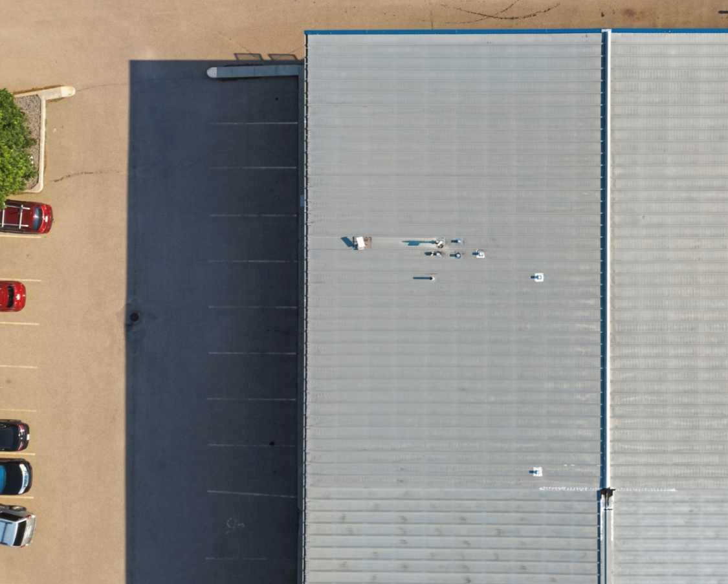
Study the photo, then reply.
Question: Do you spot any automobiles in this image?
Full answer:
Yes, the image includes an automobile.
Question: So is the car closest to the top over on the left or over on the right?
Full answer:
It is on the left.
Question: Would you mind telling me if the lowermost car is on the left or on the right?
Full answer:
The lowermost car appears in the left half of the scene.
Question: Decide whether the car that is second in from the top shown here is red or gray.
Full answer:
The car that is second in from the top is red.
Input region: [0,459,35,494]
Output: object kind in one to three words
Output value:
car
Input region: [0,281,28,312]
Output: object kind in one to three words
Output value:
car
